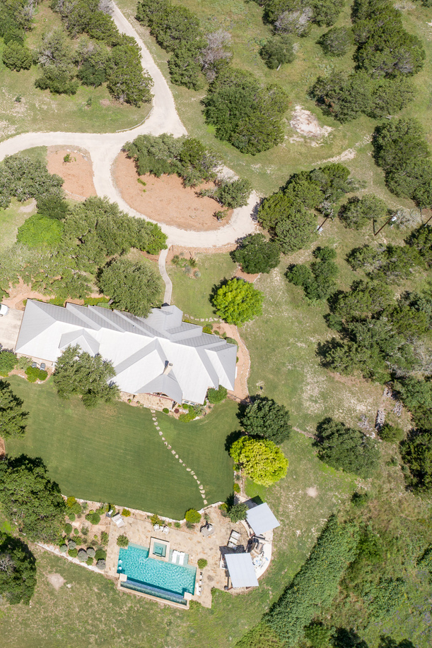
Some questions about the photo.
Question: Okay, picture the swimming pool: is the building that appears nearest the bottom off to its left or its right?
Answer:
to the right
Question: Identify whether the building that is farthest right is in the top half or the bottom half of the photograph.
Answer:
bottom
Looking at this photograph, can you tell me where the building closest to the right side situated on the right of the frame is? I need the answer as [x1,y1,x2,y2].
[243,503,280,537]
